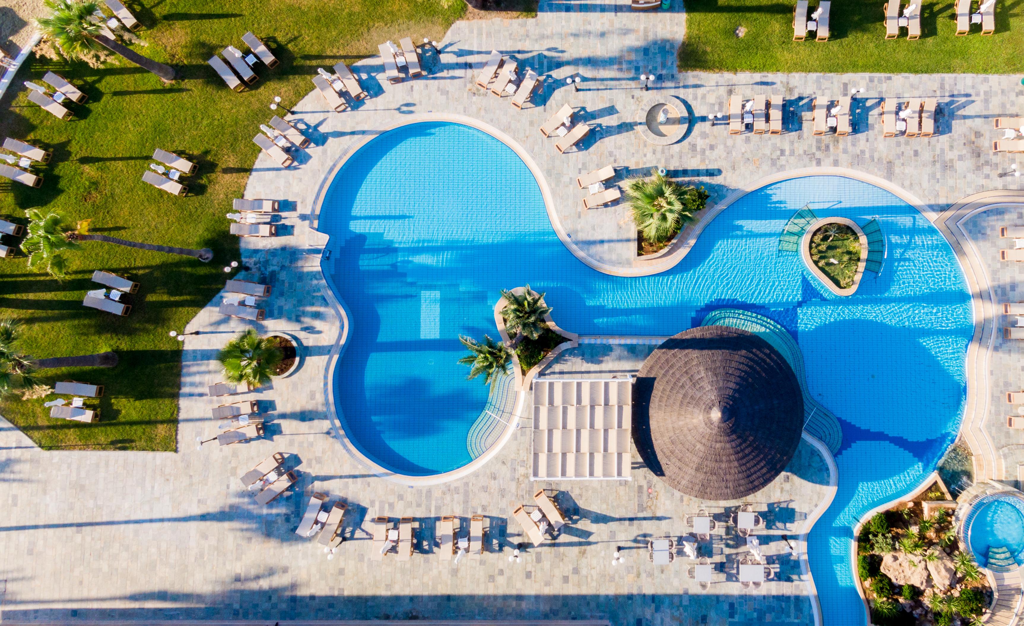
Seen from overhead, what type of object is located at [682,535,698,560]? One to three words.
umbrella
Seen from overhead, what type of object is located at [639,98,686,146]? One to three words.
fountain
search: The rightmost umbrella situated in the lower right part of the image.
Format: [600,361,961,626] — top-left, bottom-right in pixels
[742,535,763,561]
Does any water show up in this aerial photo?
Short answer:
Yes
